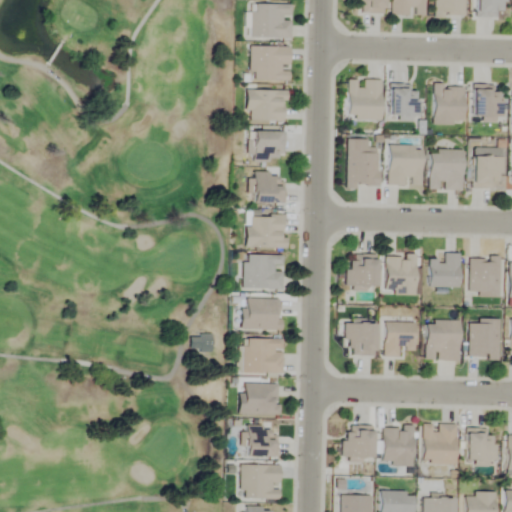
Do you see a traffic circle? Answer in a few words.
No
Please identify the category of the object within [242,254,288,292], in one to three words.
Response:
house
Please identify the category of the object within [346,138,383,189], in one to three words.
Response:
house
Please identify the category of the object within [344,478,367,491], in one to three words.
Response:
swimming pool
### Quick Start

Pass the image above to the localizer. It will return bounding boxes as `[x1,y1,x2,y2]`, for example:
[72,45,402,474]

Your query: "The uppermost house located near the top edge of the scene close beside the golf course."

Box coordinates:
[251,1,296,41]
